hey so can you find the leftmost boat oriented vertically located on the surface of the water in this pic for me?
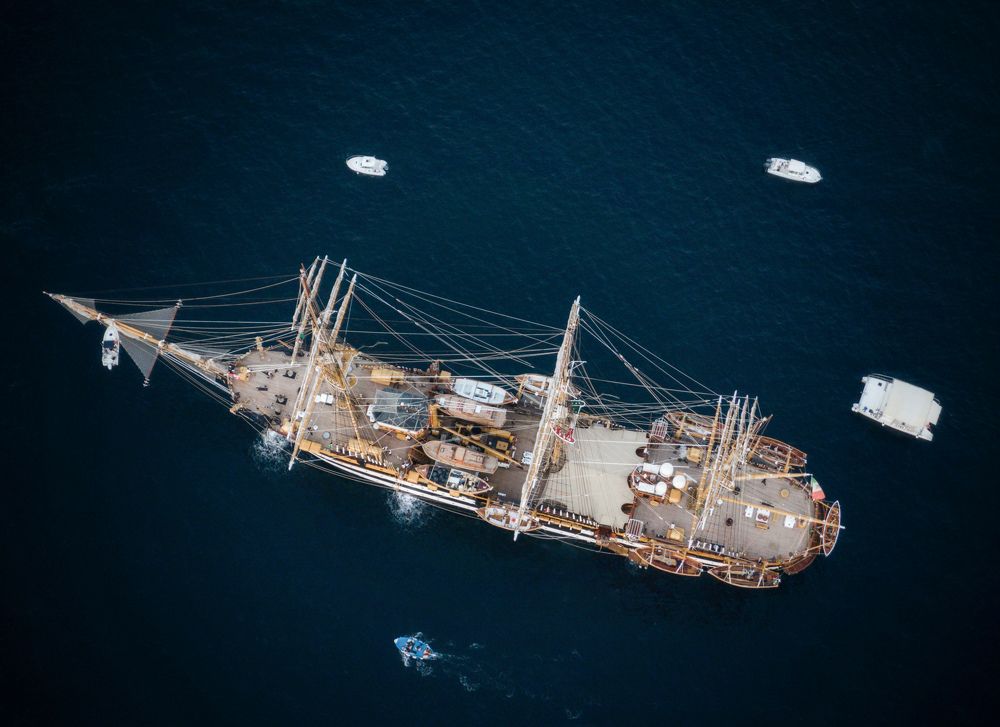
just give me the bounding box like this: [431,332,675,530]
[101,324,121,369]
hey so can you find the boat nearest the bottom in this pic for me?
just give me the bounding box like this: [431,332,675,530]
[393,636,439,662]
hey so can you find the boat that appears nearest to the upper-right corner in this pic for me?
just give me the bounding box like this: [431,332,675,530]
[763,157,823,183]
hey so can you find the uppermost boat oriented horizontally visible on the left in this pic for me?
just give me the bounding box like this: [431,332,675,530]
[346,155,391,177]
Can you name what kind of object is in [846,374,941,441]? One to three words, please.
boat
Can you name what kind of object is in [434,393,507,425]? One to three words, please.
boat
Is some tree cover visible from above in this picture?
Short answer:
No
